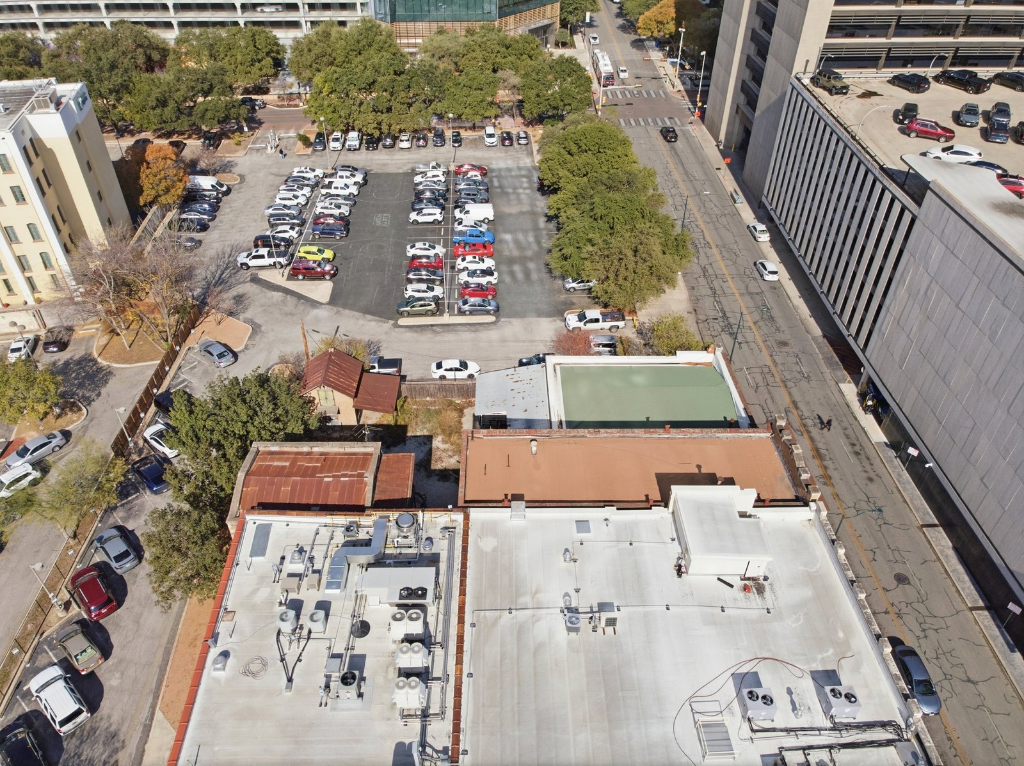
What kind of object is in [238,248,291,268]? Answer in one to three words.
vehicle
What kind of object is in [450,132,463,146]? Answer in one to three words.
vehicle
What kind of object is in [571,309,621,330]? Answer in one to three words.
truck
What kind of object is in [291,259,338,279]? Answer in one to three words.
car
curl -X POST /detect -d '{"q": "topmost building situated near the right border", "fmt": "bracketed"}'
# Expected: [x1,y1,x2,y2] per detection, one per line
[705,0,1024,213]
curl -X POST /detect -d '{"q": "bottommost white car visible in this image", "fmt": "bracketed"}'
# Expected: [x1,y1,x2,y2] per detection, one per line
[29,663,95,740]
